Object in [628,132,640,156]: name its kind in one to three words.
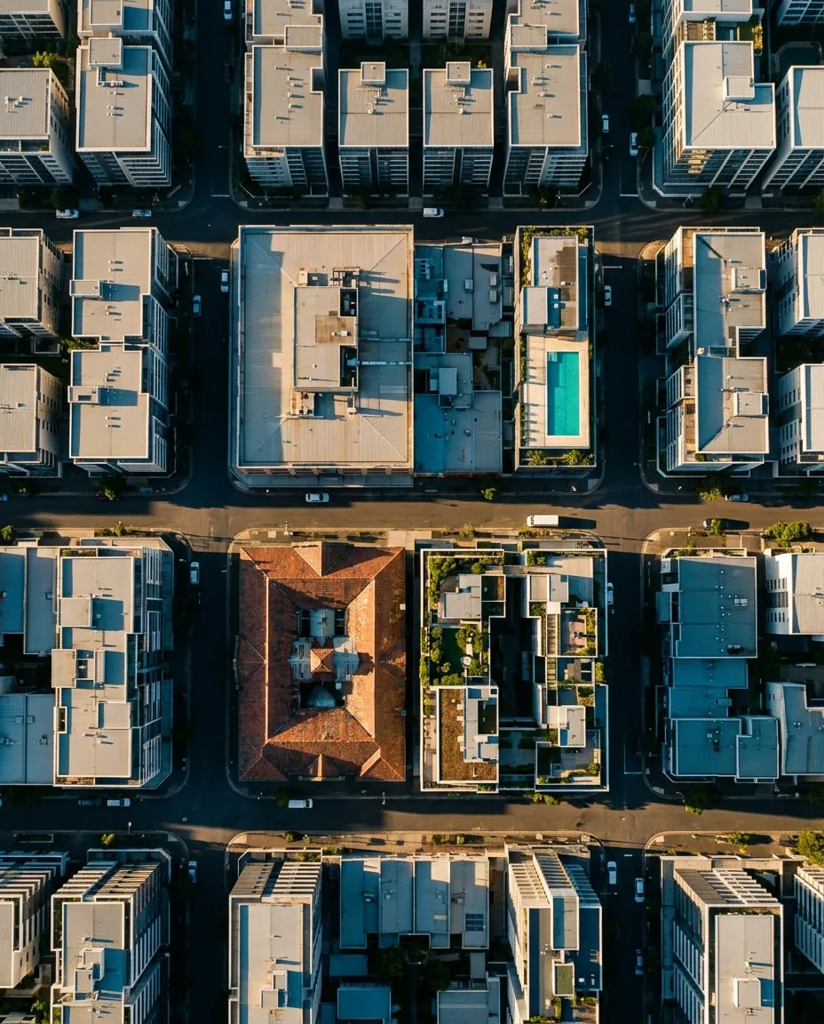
vehicle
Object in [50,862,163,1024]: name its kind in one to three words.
building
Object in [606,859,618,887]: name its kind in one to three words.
vehicle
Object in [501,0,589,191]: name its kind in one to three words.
building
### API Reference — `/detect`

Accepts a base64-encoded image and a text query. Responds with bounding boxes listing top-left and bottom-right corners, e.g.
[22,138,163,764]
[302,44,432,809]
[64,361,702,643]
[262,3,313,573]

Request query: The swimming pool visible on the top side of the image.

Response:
[547,351,580,436]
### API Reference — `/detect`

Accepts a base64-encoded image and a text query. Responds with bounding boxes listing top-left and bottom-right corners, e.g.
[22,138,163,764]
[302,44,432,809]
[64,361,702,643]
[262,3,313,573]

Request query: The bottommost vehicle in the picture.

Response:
[634,948,646,974]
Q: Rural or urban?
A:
urban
